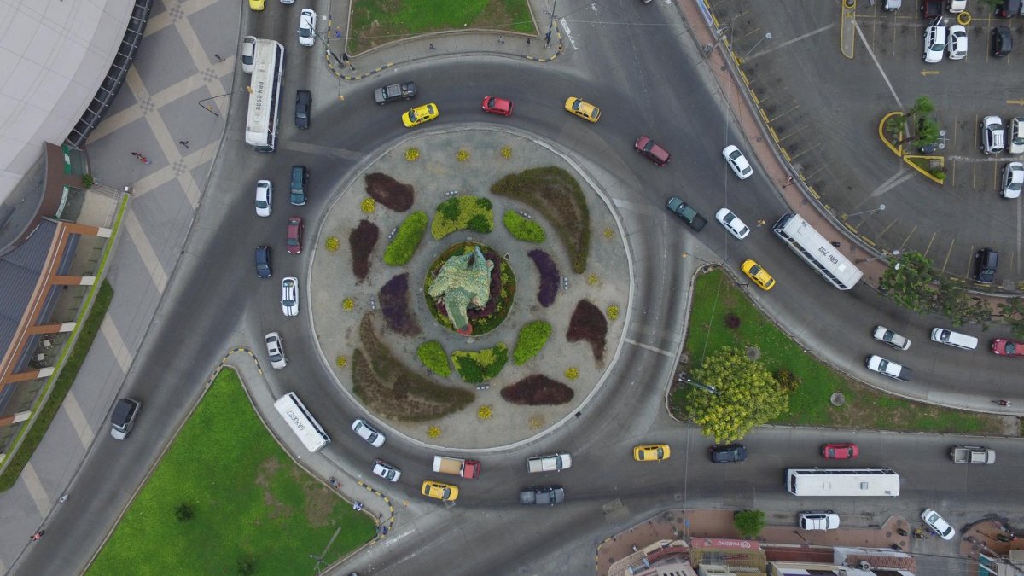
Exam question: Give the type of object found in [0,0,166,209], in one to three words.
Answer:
building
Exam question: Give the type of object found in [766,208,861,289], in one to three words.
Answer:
bus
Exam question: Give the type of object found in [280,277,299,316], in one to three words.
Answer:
car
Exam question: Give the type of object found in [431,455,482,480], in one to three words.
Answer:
truck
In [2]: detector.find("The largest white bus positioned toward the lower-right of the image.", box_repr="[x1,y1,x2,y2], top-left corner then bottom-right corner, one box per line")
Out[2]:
[780,467,895,496]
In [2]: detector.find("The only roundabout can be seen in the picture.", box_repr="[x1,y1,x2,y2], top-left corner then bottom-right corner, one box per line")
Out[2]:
[309,126,634,451]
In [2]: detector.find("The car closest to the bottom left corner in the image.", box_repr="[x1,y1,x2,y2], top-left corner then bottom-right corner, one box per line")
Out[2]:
[110,395,142,442]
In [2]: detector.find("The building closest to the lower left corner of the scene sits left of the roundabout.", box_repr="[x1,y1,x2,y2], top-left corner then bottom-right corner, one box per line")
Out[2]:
[0,221,113,430]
